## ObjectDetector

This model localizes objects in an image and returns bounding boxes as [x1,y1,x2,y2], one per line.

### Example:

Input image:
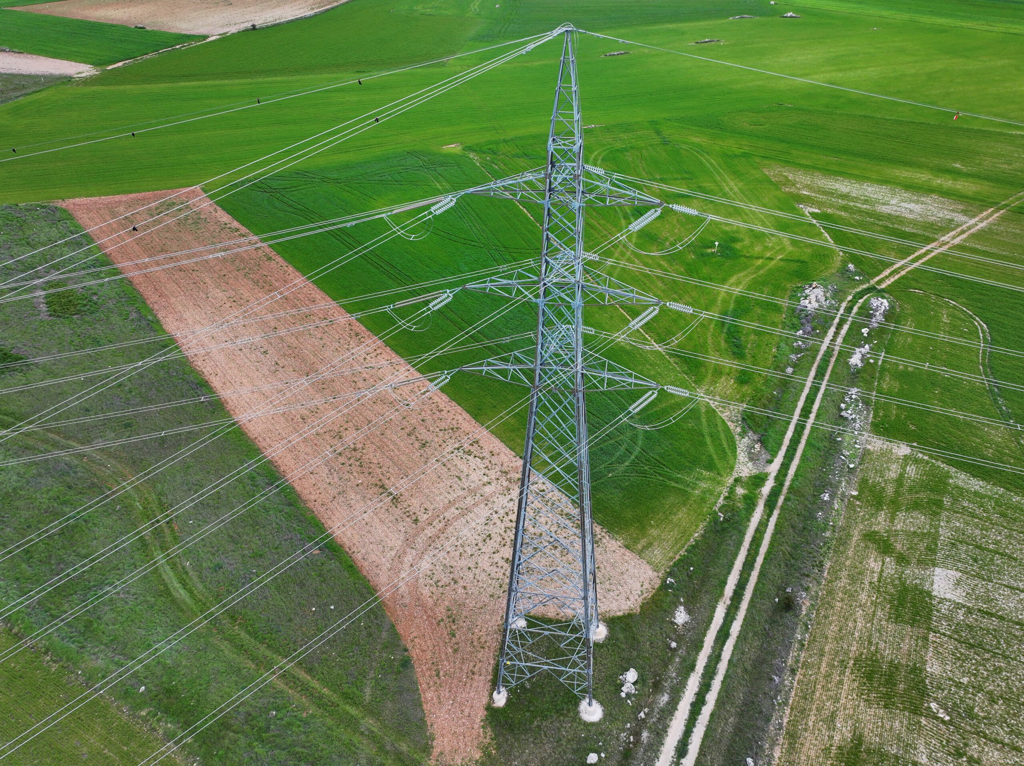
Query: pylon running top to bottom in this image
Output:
[459,24,663,717]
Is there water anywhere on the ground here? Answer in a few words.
No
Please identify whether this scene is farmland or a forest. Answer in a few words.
farmland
